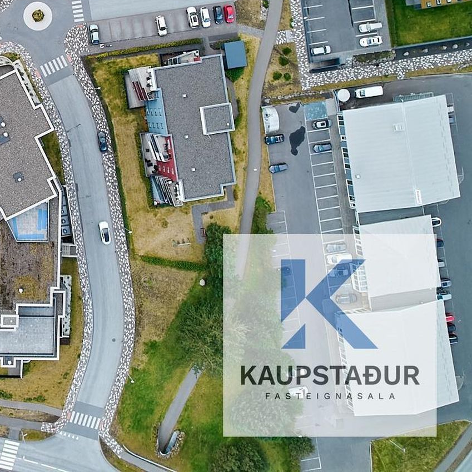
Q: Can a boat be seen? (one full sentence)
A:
No, I can't see a single boat in this photo.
